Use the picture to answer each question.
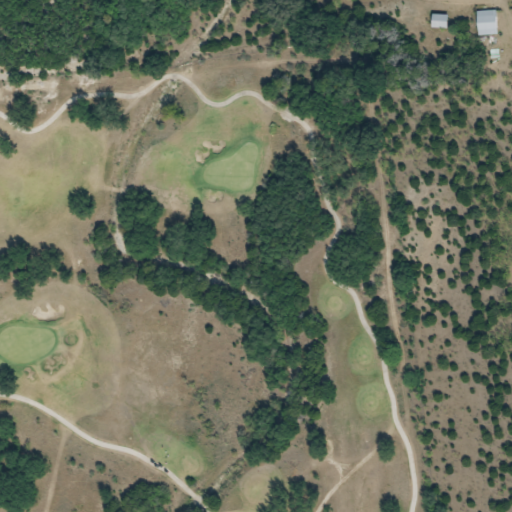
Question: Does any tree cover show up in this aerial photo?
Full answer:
Yes, there's tree cover in this view.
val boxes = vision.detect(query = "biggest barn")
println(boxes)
[477,10,498,34]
